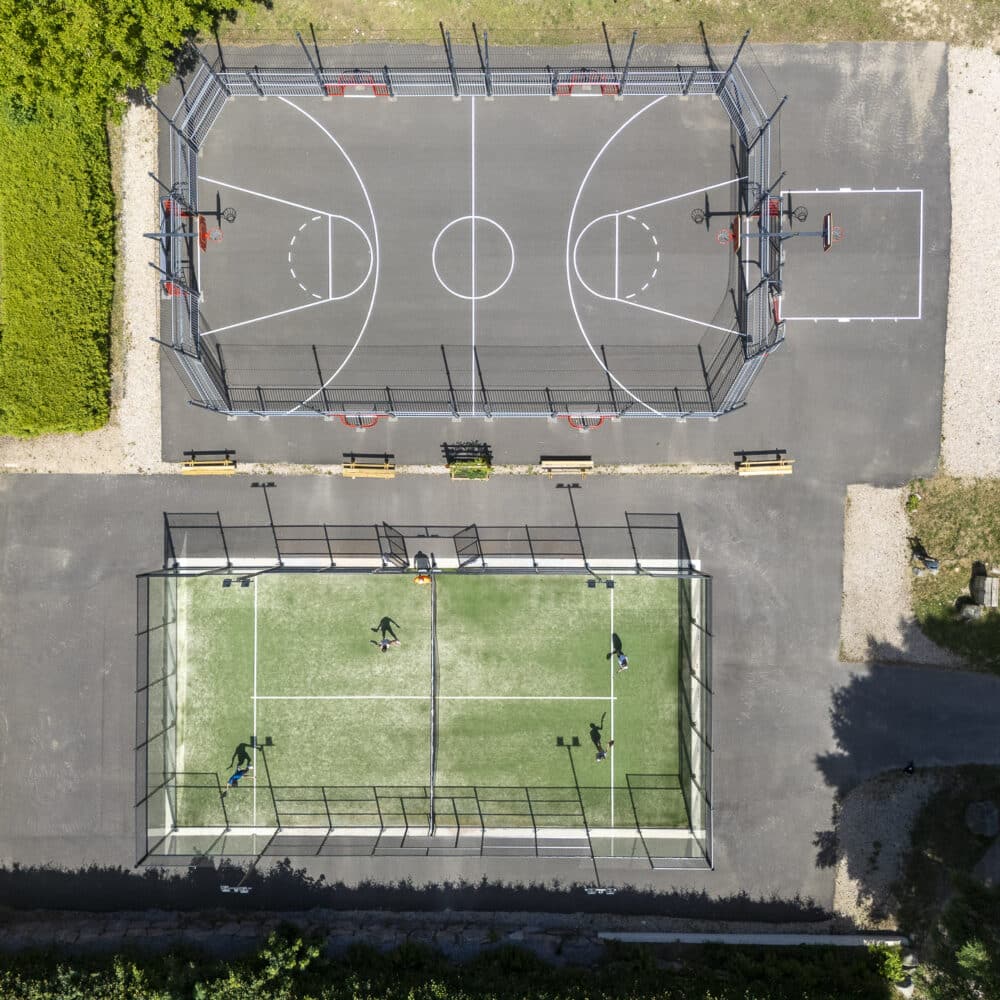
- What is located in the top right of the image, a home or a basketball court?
basketball court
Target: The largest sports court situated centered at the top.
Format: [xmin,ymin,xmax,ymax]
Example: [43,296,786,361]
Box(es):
[198,96,748,418]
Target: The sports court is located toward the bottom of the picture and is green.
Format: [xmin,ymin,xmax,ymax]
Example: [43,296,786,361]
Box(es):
[166,559,702,838]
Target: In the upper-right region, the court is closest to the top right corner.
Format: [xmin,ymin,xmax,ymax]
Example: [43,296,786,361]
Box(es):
[781,188,923,323]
